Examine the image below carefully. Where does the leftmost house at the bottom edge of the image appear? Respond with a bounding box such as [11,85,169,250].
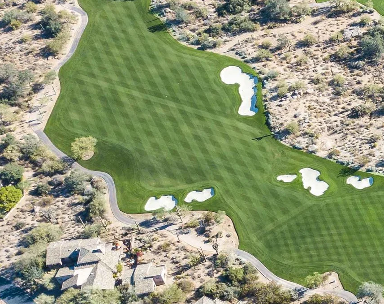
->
[46,237,123,296]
